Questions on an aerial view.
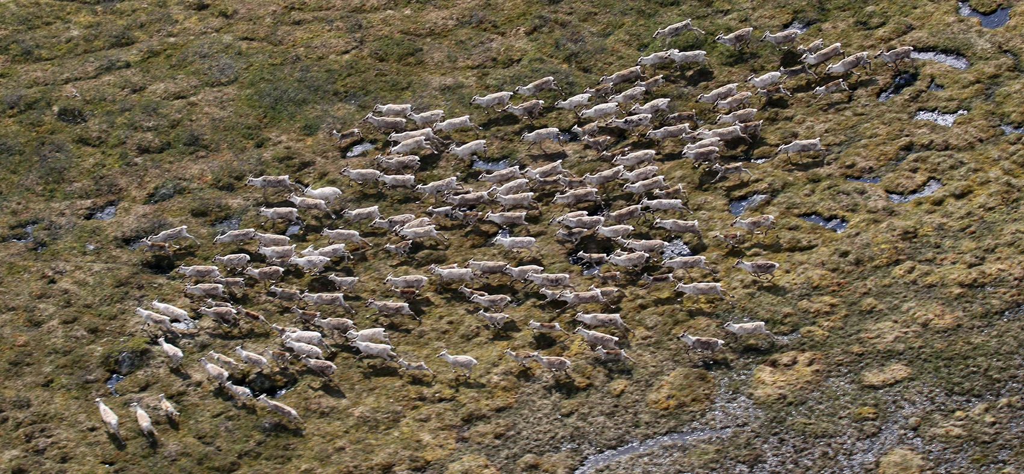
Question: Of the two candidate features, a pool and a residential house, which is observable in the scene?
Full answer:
Visible in the photo is a pool.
